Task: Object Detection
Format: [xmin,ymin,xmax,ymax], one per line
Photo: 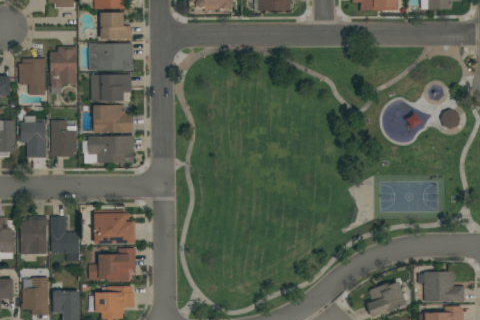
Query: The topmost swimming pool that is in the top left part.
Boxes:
[80,14,96,37]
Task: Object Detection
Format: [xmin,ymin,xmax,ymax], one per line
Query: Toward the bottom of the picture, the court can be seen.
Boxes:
[374,176,445,220]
